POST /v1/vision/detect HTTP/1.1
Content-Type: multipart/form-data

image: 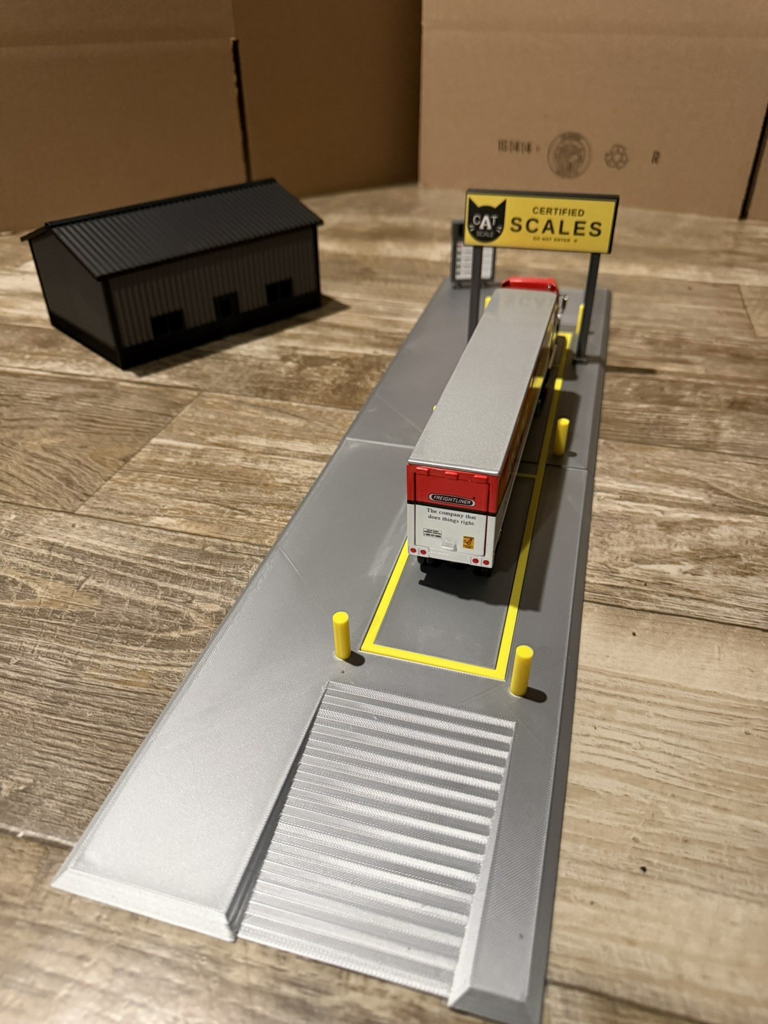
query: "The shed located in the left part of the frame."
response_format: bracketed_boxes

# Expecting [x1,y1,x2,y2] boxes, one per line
[19,178,325,368]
